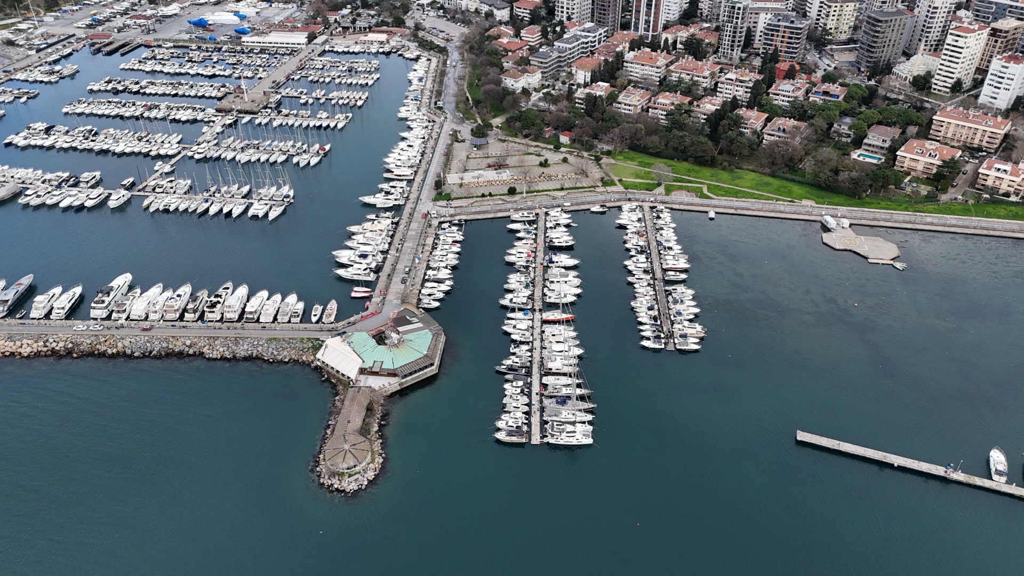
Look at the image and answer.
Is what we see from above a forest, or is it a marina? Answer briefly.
marina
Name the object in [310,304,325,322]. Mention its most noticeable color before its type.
white boat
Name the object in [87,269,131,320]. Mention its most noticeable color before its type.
white boat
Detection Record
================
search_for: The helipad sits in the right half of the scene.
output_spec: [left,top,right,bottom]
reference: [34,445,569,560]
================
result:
[821,223,900,261]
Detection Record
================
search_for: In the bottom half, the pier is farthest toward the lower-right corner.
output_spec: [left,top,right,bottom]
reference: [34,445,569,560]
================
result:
[795,430,1024,499]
